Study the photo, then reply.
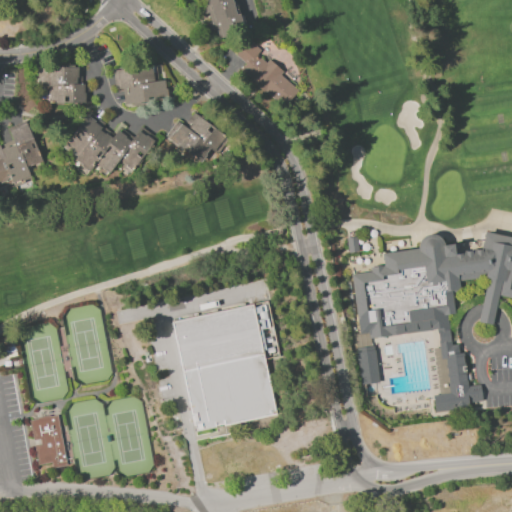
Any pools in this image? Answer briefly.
Yes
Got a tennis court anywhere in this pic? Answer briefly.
Yes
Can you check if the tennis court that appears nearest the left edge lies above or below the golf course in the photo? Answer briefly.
below it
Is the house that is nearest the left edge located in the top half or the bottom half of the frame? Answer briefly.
top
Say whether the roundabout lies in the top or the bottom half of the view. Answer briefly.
bottom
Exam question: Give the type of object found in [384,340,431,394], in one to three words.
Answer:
swimming pool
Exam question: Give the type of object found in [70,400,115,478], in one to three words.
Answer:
tennis court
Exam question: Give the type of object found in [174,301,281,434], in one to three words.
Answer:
building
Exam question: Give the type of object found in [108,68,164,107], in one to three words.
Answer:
house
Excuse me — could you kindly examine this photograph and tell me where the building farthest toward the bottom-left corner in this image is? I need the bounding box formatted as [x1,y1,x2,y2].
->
[31,415,69,468]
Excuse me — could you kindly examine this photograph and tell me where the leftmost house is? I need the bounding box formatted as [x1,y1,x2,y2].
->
[0,121,40,186]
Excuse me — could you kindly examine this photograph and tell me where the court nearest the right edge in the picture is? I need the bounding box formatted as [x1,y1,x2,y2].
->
[109,398,154,477]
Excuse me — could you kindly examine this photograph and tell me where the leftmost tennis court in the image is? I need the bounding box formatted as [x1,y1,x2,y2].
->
[25,324,68,402]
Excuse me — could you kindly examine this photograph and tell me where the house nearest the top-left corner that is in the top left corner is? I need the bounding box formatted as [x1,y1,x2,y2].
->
[35,65,96,108]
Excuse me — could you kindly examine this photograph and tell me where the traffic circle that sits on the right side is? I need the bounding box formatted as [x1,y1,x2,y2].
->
[460,304,512,406]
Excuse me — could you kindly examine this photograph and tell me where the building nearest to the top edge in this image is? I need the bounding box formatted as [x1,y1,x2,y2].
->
[208,0,244,41]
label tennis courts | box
[109,398,154,477]
[25,324,68,402]
[66,306,112,384]
[70,400,115,478]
